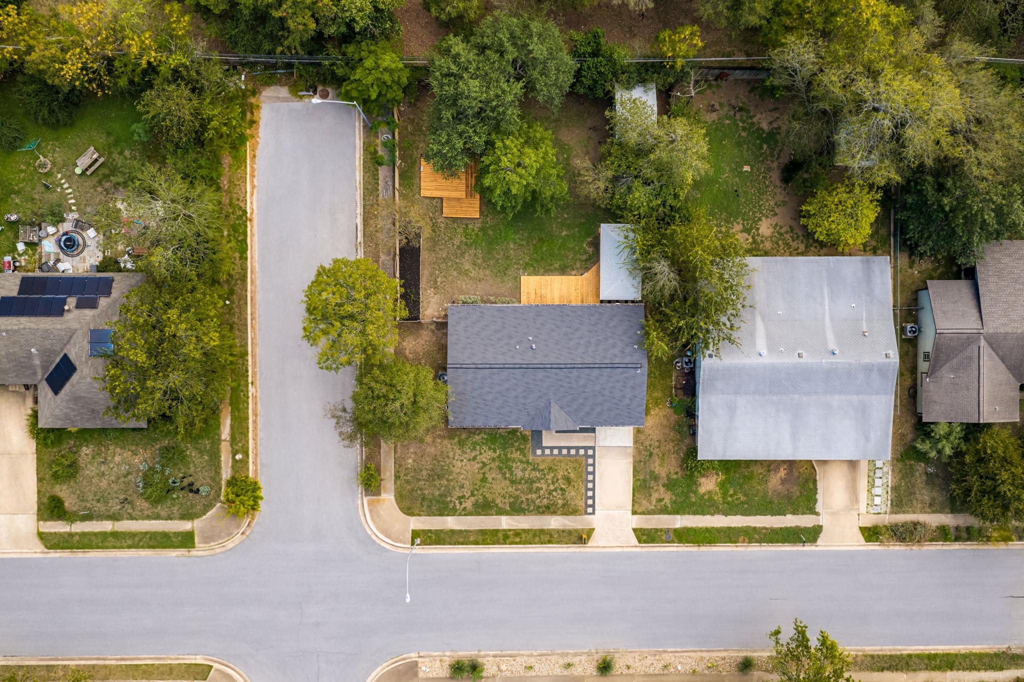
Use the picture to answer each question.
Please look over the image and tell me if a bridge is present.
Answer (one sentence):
No, I find no bridge anywhere in the image.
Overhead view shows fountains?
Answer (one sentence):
No, no fountain is visible in the scene.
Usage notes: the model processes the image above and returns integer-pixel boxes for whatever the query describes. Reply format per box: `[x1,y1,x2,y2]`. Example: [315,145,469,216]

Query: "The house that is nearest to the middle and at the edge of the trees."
[447,303,648,432]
